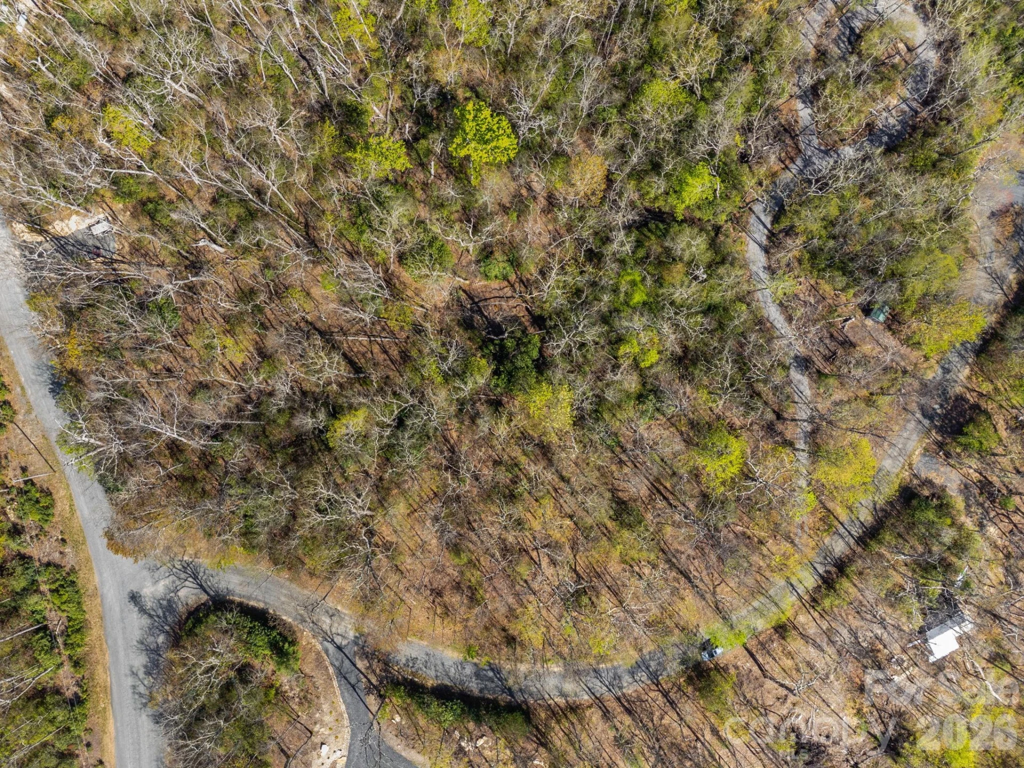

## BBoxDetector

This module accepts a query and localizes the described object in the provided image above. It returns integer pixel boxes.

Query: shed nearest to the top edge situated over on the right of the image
[863,305,886,325]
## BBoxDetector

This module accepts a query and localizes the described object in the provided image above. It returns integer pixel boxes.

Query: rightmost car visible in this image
[702,643,727,658]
